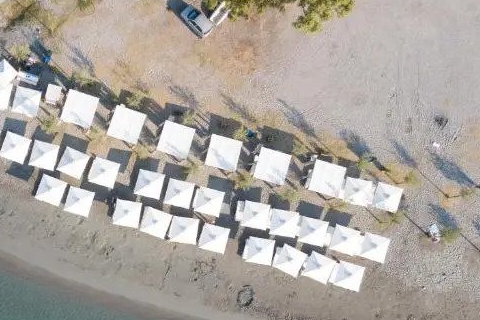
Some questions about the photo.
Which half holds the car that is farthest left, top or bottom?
top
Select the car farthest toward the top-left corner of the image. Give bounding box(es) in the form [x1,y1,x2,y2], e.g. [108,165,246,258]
[178,5,212,40]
